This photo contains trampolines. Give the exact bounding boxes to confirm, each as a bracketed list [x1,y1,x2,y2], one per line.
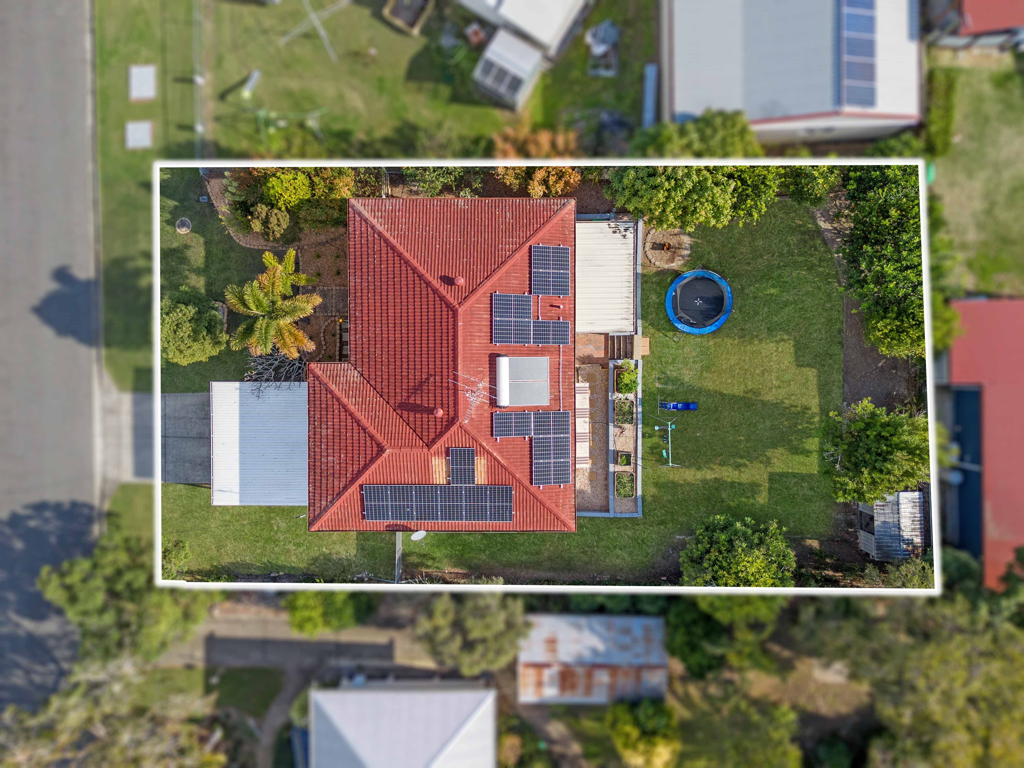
[661,264,738,344]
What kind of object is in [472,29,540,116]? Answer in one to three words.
shed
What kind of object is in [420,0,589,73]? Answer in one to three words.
house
